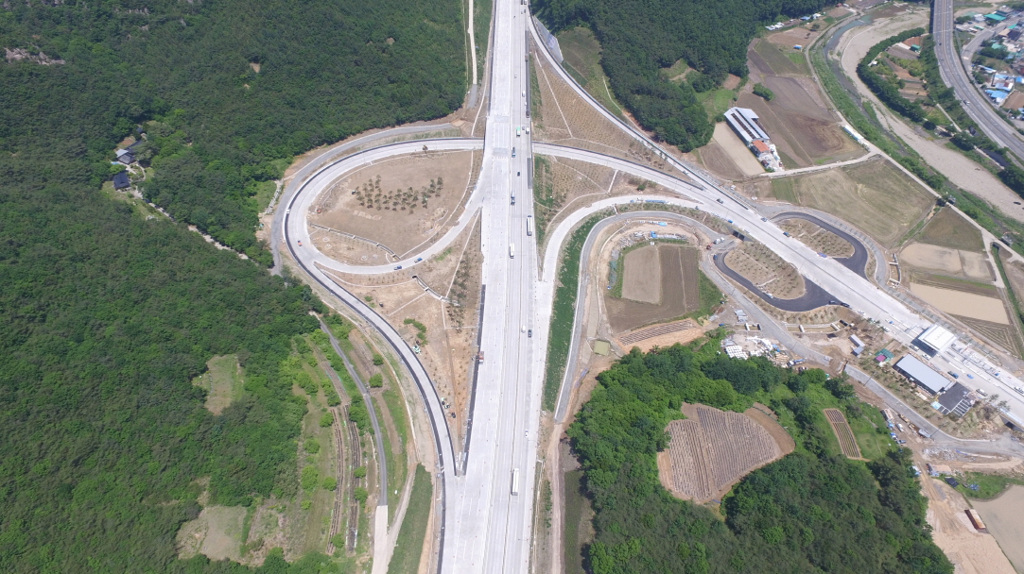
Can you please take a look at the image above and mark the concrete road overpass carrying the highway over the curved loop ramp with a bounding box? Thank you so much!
[483,115,533,157]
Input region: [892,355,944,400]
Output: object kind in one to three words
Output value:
building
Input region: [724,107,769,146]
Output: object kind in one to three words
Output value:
shed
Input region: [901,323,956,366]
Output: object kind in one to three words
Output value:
toll station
